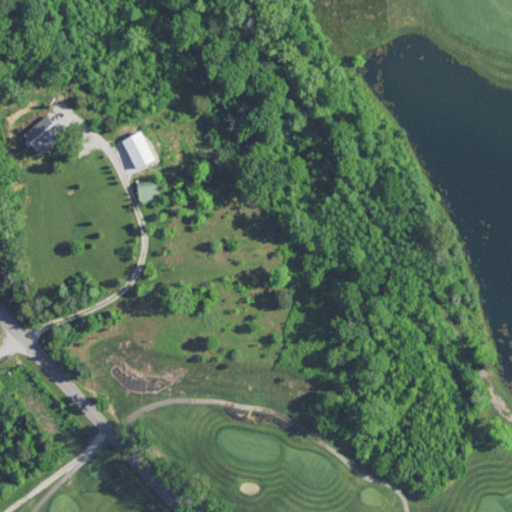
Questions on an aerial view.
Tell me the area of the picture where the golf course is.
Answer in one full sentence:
Look in the bottom portion of the view to spot the golf course.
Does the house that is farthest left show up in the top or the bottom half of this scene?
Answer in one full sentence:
The house that is farthest left sits in the top half of the picture.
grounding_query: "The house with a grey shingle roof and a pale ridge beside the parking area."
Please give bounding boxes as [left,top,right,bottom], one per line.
[22,114,56,152]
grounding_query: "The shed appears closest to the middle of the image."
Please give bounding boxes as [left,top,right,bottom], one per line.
[137,182,158,203]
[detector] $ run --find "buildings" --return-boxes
[22,114,56,152]
[137,182,158,203]
[122,132,155,169]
